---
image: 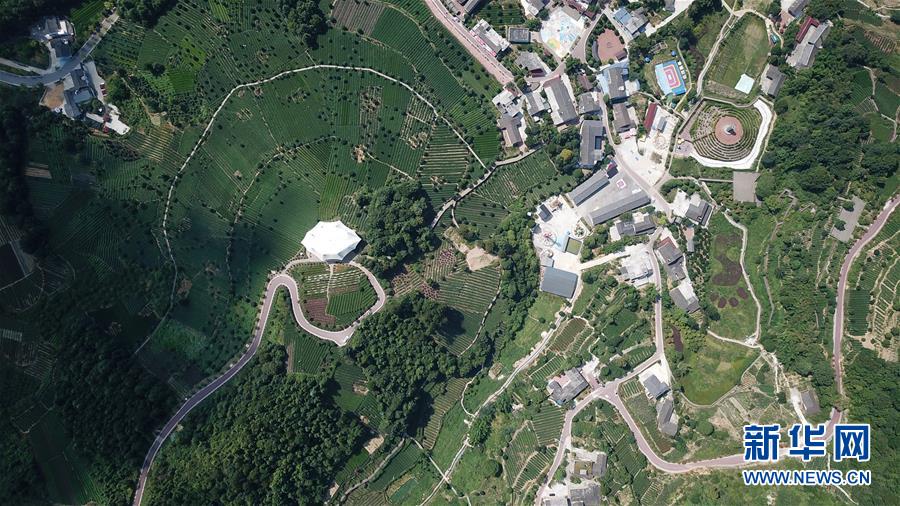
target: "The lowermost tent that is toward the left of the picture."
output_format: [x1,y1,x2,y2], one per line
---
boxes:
[301,220,361,263]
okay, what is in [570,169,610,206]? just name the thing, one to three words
shed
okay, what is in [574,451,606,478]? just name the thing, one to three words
house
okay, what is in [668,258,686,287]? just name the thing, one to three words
house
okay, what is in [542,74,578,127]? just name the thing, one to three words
building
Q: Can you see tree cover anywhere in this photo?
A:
Yes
